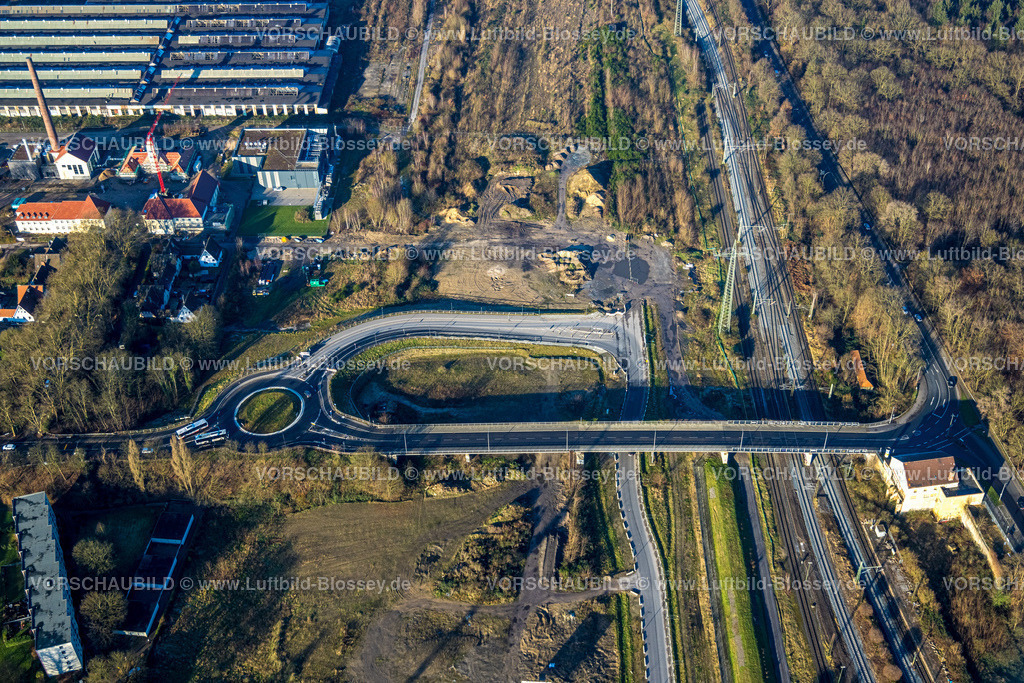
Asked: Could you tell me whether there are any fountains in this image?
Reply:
No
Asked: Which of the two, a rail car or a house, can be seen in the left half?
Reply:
house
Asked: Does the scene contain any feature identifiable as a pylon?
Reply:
Yes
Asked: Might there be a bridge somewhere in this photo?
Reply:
Yes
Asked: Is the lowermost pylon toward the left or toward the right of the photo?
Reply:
right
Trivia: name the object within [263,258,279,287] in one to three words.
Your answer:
vehicle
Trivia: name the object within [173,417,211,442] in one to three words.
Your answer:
bus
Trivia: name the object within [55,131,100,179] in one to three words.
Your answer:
building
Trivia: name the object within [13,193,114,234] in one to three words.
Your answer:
house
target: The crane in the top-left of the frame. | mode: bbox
[143,73,182,199]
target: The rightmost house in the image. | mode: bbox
[889,451,989,522]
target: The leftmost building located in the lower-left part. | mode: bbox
[15,491,86,678]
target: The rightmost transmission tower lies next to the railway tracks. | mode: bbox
[717,249,754,335]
